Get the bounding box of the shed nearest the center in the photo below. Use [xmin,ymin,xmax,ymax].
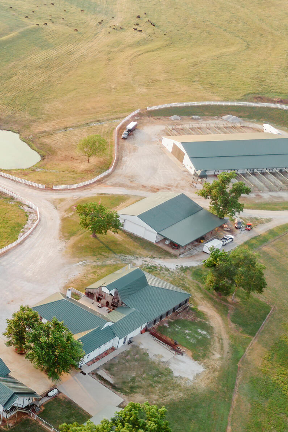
[116,191,227,258]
